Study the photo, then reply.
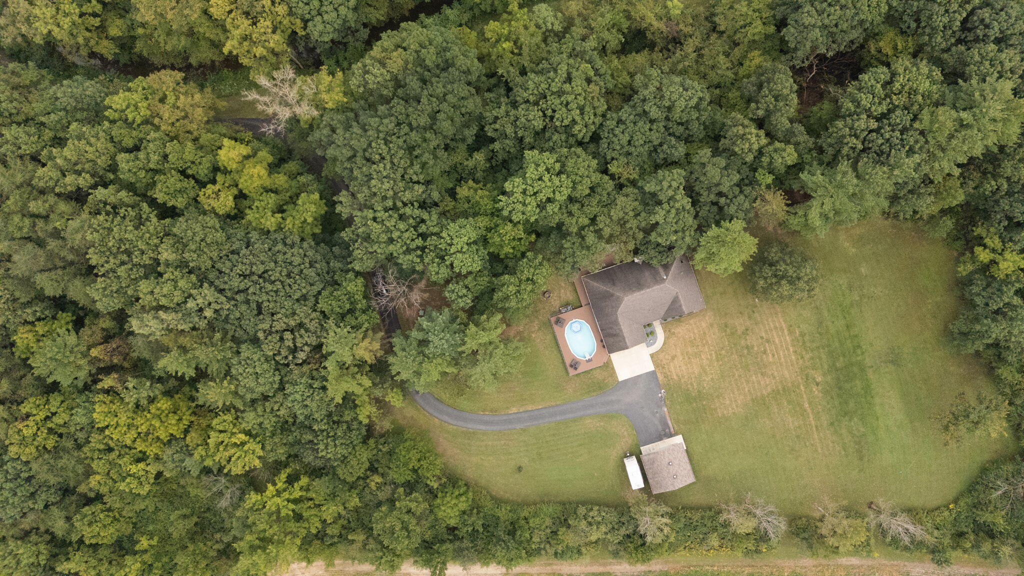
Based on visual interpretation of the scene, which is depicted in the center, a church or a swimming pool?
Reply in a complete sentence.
The one visible in the center is a swimming pool.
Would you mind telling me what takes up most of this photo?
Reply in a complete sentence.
Most of the picture is covered by trees.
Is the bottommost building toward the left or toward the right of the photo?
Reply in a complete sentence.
It is on the right.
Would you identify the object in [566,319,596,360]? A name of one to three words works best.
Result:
swimming pool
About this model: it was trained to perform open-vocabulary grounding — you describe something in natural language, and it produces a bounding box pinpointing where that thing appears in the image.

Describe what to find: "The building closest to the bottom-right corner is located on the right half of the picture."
[640,442,696,495]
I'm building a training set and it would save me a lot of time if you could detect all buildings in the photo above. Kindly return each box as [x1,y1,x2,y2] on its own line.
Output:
[640,442,696,495]
[582,247,706,356]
